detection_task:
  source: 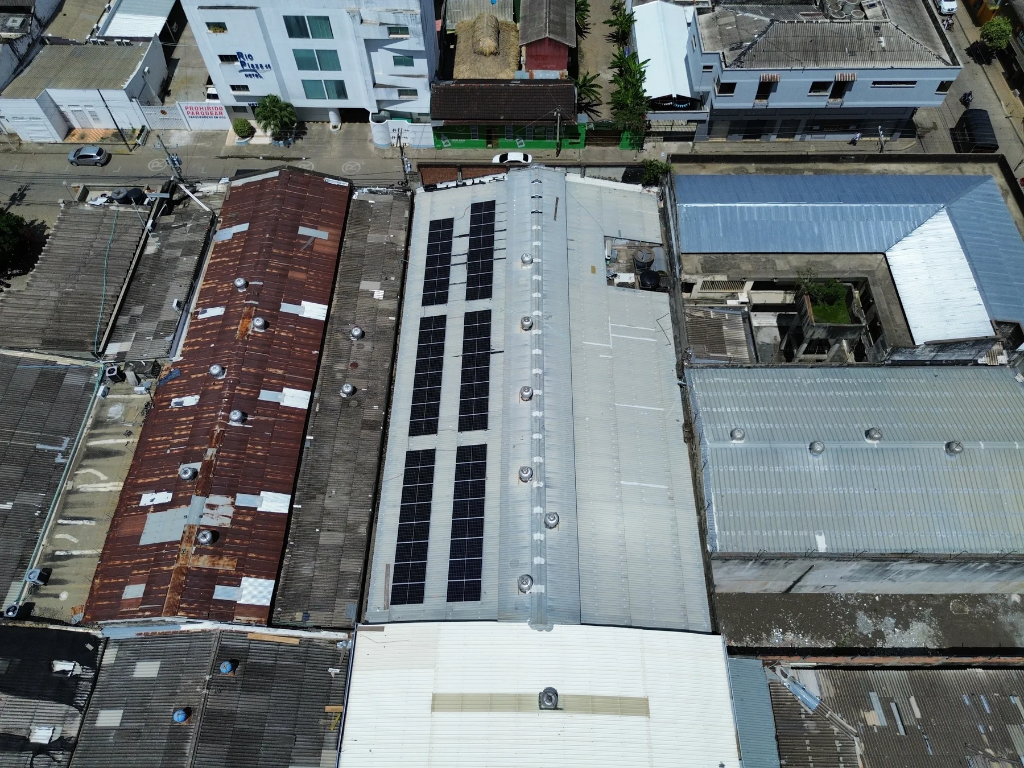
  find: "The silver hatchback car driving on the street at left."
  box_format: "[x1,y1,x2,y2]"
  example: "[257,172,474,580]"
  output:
[62,143,111,167]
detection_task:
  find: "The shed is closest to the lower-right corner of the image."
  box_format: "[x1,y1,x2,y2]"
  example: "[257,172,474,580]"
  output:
[765,664,1024,768]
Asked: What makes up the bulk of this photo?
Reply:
buildings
